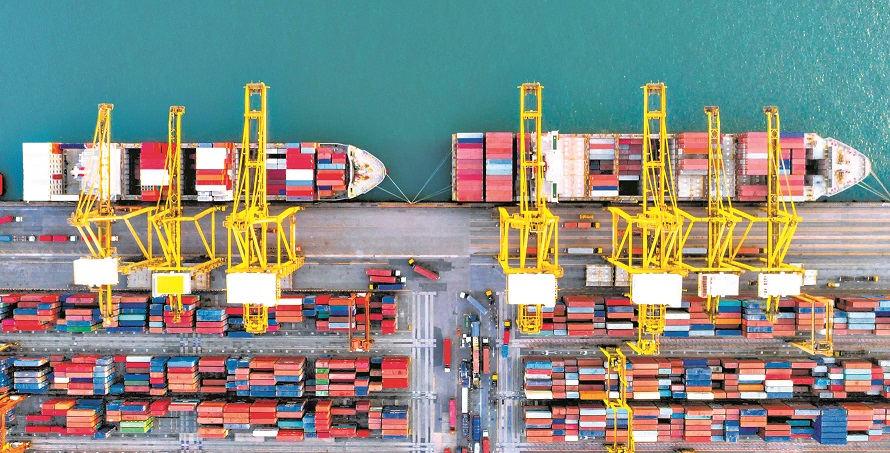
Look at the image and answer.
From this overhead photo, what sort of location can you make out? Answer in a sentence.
What you see here is a port.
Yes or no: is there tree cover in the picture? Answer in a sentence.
No, there's no tree cover in this view.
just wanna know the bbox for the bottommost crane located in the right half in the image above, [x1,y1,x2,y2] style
[601,398,634,453]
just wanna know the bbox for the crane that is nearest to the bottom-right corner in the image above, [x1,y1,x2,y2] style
[786,292,833,356]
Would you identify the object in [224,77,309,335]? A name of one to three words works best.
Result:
container crane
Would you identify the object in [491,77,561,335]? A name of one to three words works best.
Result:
container crane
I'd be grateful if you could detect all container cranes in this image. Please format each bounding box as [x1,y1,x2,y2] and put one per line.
[601,398,634,453]
[491,77,561,335]
[786,292,833,356]
[65,106,175,323]
[625,292,662,356]
[599,77,687,335]
[347,292,375,353]
[142,106,236,323]
[654,106,747,323]
[706,106,812,323]
[595,345,628,409]
[224,77,309,335]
